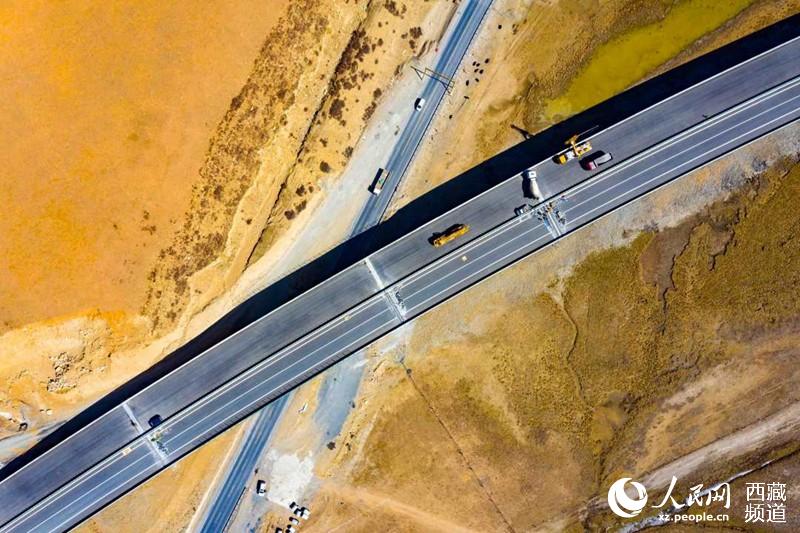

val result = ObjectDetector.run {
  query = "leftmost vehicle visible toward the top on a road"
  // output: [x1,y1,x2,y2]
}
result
[373,168,390,194]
